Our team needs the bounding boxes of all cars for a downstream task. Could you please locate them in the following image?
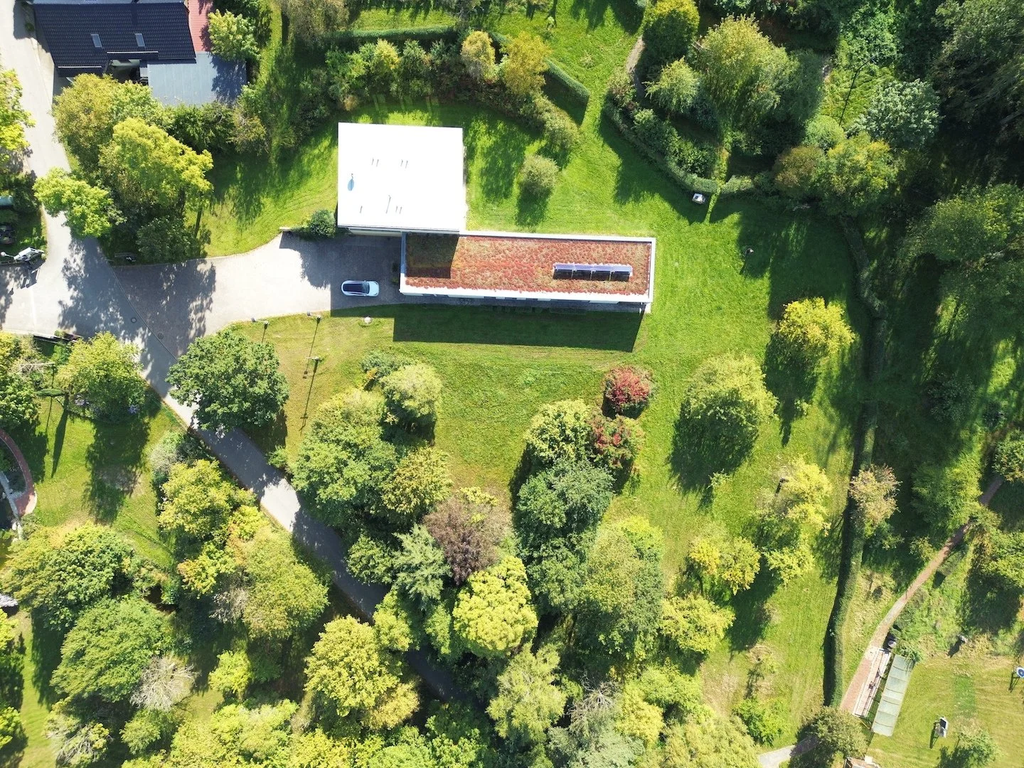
[341,279,380,297]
